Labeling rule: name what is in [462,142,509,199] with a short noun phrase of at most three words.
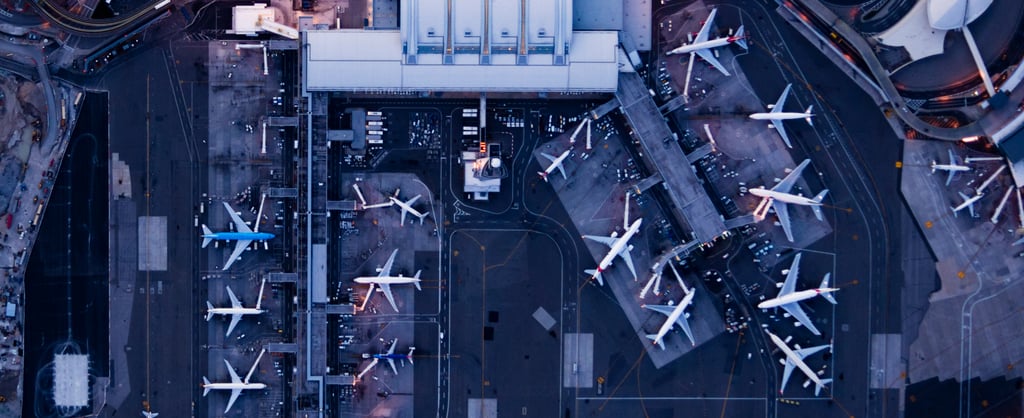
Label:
building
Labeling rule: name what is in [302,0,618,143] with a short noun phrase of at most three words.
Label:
building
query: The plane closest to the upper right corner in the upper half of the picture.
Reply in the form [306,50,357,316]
[933,149,969,185]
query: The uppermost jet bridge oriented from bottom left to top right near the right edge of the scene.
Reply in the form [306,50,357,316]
[975,164,1007,195]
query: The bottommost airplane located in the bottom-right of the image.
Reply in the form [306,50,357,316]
[767,331,829,393]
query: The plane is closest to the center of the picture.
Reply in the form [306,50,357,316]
[540,150,569,178]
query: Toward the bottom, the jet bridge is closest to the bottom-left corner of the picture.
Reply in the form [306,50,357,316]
[245,346,268,384]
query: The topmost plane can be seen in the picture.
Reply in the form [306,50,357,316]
[669,9,745,78]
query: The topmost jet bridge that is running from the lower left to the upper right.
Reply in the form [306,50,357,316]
[570,116,590,143]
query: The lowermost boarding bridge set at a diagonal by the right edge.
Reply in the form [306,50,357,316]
[991,187,1014,221]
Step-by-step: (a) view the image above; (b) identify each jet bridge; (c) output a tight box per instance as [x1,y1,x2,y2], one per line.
[362,201,395,210]
[624,191,630,228]
[991,187,1014,221]
[758,199,776,221]
[703,123,715,149]
[686,53,695,98]
[640,271,658,299]
[653,272,662,295]
[964,156,1005,162]
[234,43,268,50]
[975,164,1007,195]
[254,191,268,233]
[359,284,375,310]
[570,116,590,143]
[757,198,770,219]
[352,182,367,206]
[261,120,268,154]
[669,259,689,294]
[263,46,270,77]
[256,276,267,311]
[245,346,268,384]
[586,118,591,150]
[356,356,380,378]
